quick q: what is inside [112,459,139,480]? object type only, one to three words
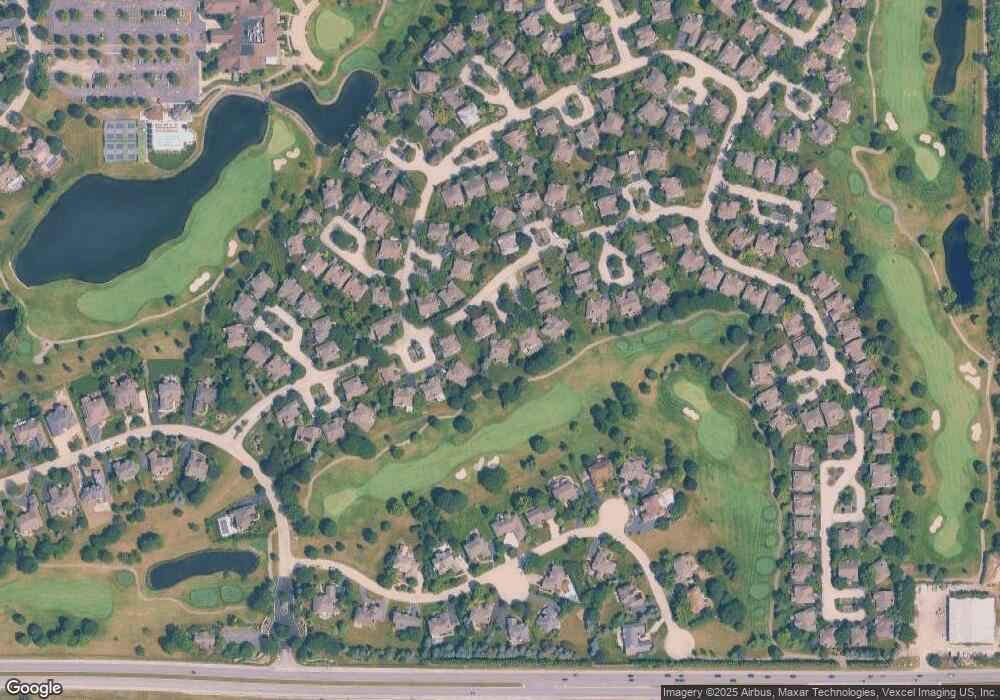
house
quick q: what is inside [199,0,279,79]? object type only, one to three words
building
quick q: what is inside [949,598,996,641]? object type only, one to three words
building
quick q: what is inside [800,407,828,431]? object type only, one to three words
house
